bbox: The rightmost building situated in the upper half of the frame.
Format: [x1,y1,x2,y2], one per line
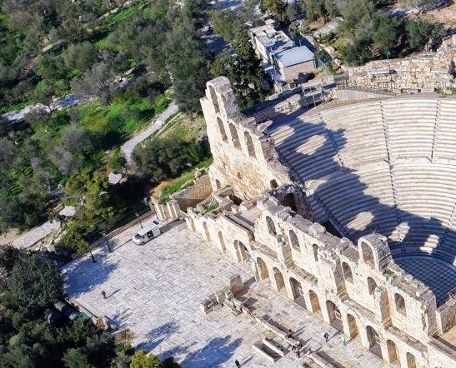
[274,43,317,76]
